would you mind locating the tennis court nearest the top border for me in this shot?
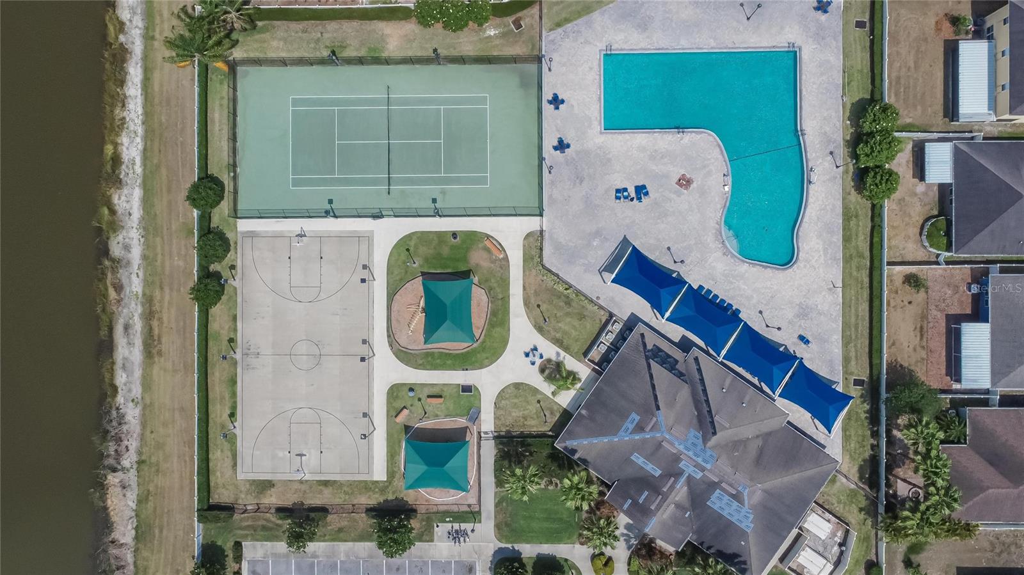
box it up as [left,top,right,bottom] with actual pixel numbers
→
[236,64,543,218]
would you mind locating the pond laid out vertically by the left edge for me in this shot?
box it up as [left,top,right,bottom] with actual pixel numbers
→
[0,0,120,575]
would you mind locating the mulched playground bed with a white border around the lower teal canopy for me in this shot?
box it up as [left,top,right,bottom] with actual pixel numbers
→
[400,415,477,505]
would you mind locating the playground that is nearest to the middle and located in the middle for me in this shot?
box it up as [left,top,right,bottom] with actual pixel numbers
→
[391,274,489,350]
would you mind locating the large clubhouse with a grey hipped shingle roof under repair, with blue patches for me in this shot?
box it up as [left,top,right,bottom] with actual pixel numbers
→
[554,322,840,575]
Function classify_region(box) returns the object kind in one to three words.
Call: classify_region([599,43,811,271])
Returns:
swimming pool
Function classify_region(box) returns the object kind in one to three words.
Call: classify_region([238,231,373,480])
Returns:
basketball court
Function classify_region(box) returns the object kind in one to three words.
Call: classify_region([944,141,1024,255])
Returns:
house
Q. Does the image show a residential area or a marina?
residential area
